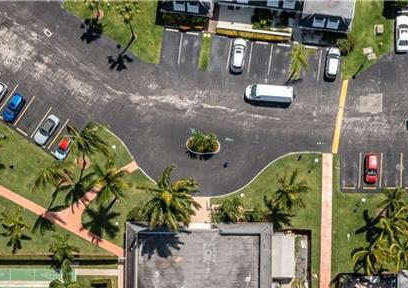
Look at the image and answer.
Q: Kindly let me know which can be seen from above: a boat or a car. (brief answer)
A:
car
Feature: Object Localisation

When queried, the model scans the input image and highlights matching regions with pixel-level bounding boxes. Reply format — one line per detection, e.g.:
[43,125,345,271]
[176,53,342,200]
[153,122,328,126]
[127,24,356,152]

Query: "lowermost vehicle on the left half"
[52,136,71,161]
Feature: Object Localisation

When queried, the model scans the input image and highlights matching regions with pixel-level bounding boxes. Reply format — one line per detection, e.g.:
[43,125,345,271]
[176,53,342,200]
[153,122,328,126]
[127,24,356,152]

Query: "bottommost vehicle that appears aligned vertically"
[365,154,380,185]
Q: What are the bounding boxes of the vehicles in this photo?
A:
[1,91,26,124]
[324,48,341,83]
[0,81,9,102]
[244,83,295,104]
[52,136,71,161]
[34,113,60,147]
[365,154,380,185]
[229,37,245,75]
[394,15,408,53]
